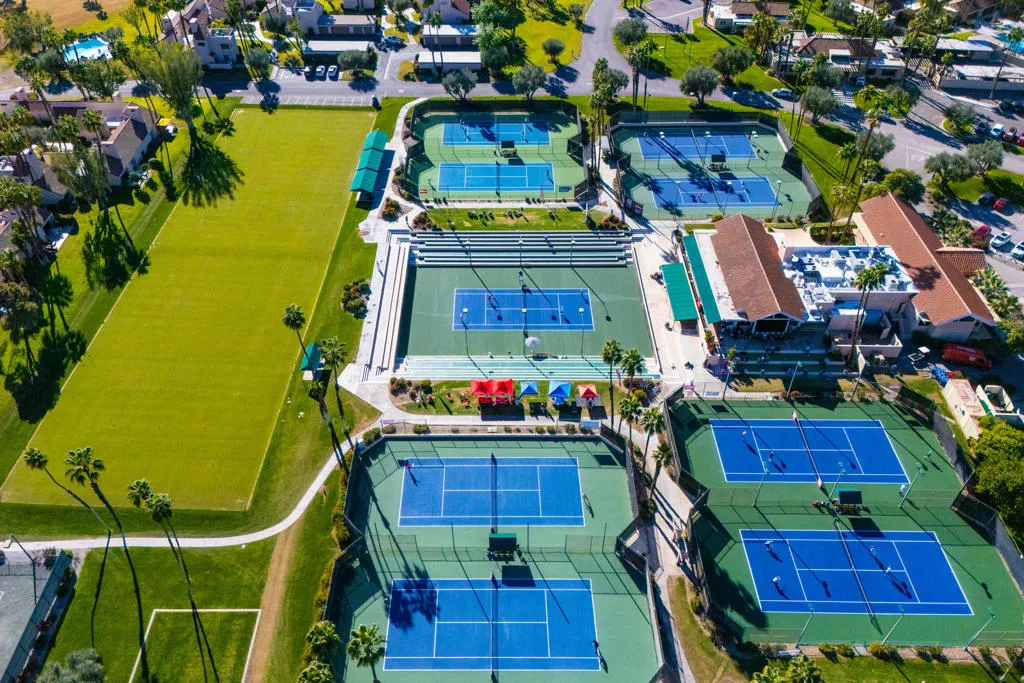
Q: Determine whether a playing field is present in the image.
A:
Yes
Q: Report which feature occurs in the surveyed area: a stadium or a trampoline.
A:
stadium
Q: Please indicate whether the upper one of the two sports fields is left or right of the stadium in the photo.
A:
to the left of it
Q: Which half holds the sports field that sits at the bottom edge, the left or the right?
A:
left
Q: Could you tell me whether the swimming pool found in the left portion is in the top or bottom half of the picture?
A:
top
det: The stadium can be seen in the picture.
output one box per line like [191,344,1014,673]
[362,228,668,379]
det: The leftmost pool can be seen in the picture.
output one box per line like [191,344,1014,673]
[62,37,109,60]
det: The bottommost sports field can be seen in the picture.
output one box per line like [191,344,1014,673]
[127,608,262,683]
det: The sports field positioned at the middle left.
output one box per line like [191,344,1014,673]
[0,108,376,510]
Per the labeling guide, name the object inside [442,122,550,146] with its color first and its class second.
blue tennis court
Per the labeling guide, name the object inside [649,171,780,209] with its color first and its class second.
blue tennis court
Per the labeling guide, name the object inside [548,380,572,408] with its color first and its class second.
blue tent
